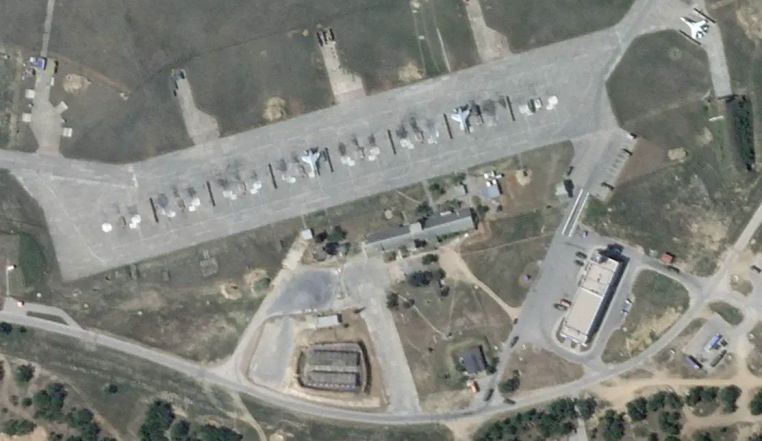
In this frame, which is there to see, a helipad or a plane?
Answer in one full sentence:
There is a plane in the scene.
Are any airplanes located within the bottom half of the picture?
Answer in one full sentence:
No, no airplane is visible within the bottom half of the picture.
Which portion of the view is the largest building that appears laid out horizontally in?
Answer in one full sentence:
The largest building that appears laid out horizontally appears toward the center of the photo.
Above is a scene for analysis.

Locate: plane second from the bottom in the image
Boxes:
[451,106,469,132]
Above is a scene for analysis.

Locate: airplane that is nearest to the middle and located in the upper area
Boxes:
[301,149,320,175]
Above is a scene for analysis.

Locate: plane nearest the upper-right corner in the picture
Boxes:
[682,18,706,37]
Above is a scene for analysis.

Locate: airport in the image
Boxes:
[0,0,731,281]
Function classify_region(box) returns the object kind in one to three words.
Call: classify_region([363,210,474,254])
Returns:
building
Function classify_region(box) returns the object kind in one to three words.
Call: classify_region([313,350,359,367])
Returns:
shed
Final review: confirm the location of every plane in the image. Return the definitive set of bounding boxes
[682,18,706,37]
[301,149,320,175]
[451,106,469,132]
